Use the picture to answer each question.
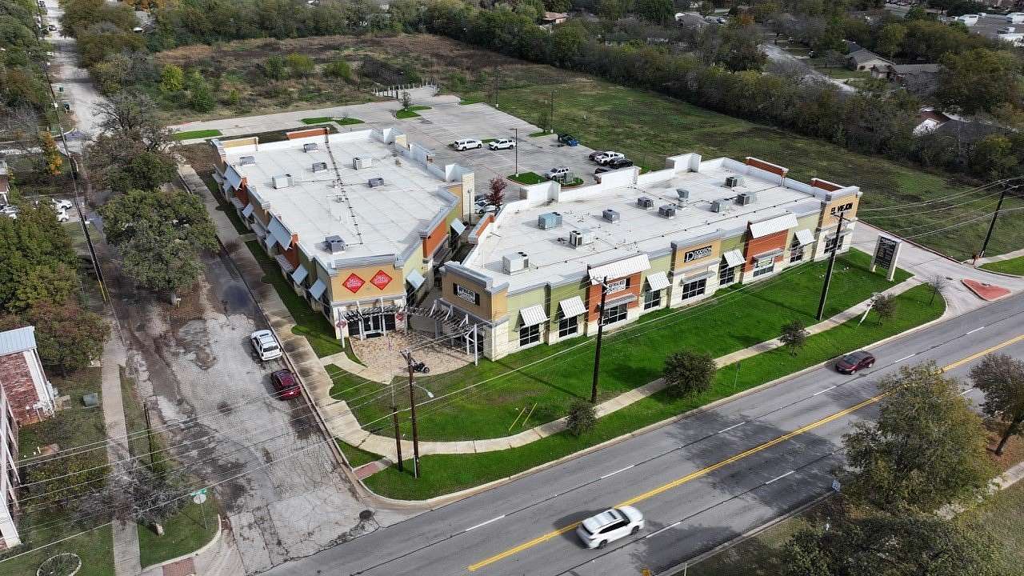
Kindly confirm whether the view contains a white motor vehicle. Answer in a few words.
Yes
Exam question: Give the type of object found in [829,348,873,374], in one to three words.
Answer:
car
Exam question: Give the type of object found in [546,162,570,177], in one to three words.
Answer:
car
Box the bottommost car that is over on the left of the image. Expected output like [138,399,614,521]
[270,370,303,401]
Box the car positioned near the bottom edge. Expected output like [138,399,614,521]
[575,506,642,551]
